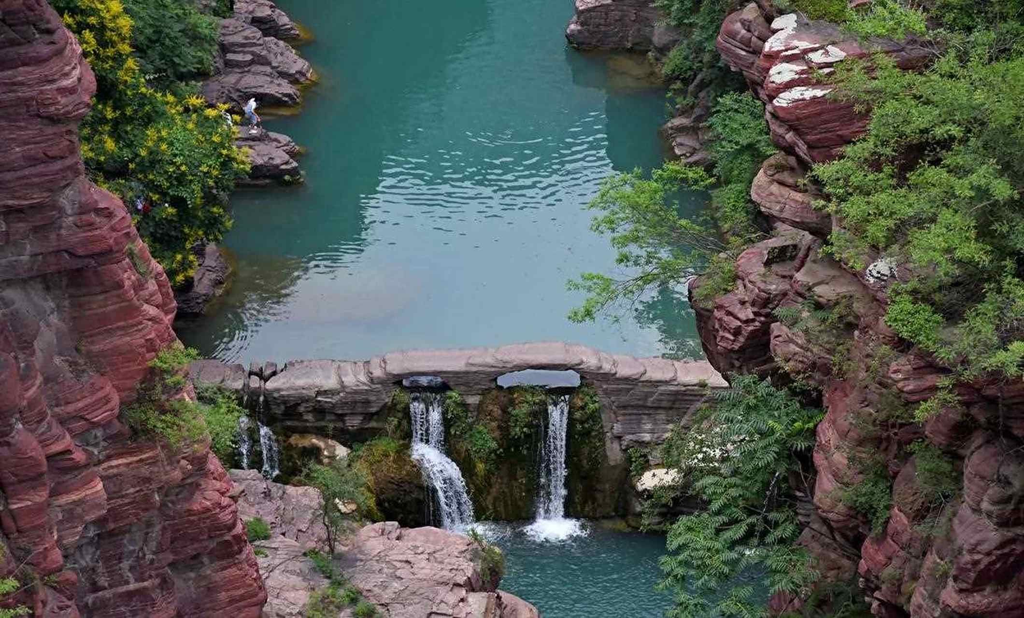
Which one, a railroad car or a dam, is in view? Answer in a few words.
dam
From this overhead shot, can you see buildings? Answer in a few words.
No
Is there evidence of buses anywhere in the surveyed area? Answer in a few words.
No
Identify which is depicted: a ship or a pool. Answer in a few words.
pool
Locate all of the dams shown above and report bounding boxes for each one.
[187,335,792,462]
